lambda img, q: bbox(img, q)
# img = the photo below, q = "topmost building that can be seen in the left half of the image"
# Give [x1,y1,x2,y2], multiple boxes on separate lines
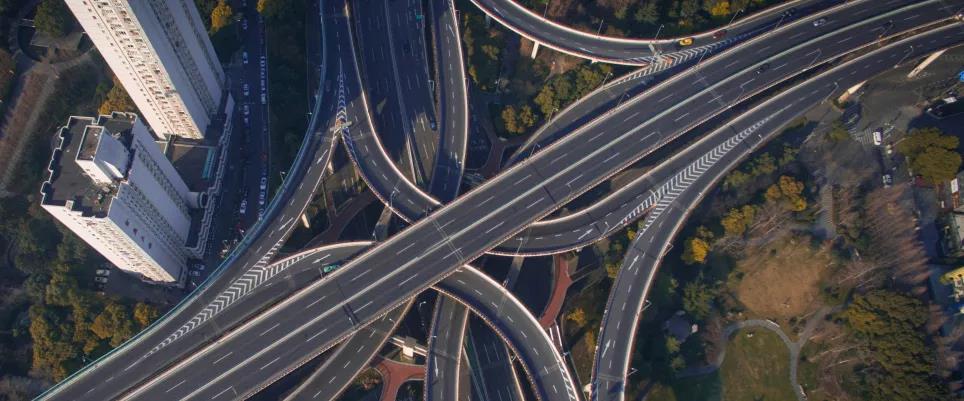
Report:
[60,0,230,143]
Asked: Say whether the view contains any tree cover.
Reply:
Yes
